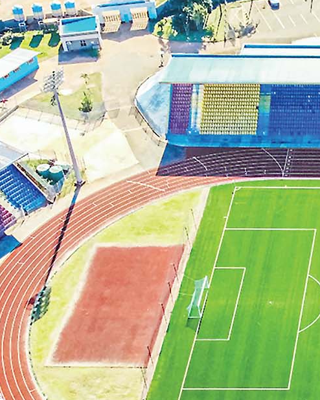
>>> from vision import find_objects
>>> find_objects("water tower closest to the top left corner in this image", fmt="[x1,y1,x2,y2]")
[9,0,29,32]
